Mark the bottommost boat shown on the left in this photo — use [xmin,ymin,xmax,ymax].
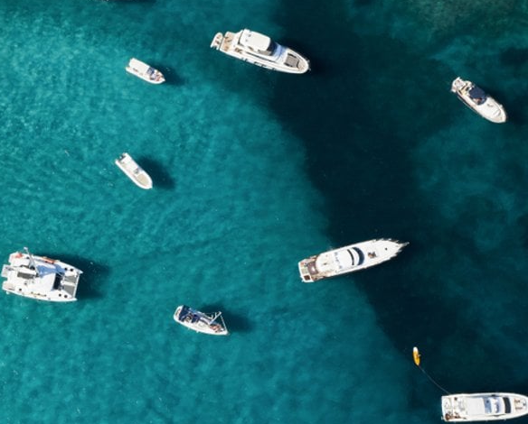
[176,306,230,335]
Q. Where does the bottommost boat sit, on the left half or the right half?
right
